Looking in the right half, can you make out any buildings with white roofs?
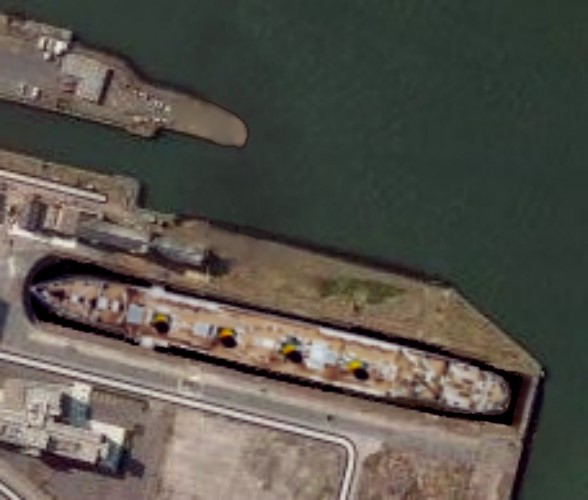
No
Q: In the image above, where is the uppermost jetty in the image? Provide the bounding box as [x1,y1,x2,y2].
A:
[0,10,248,146]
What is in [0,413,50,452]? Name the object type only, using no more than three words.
building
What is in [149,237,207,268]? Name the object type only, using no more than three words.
shed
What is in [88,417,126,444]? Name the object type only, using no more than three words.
building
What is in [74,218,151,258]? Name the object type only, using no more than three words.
shed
